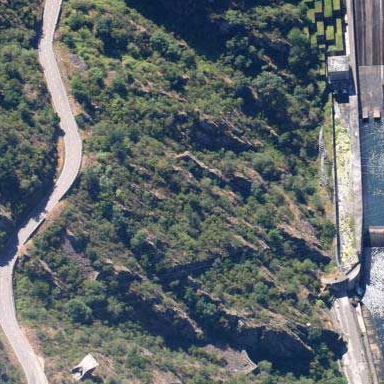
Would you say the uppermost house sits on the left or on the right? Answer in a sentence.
The uppermost house sits on the right side.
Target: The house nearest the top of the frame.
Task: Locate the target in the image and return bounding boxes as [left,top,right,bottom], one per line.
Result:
[328,56,350,85]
